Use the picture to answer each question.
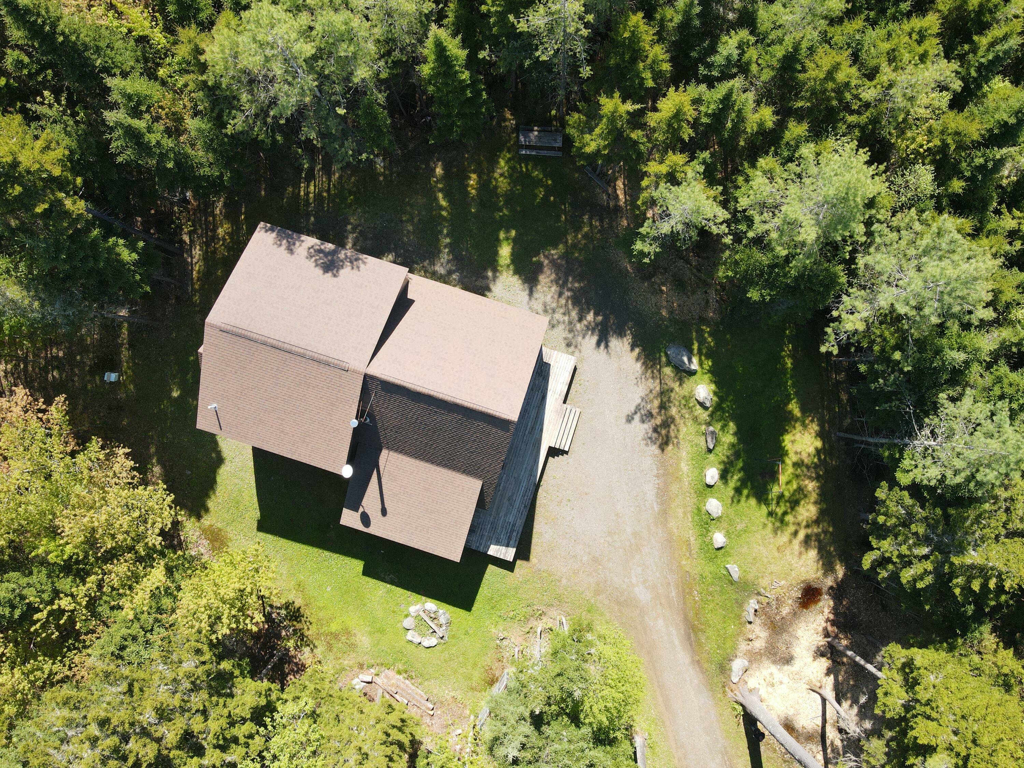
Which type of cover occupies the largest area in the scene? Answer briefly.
trees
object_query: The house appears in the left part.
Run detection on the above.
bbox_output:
[196,221,550,561]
